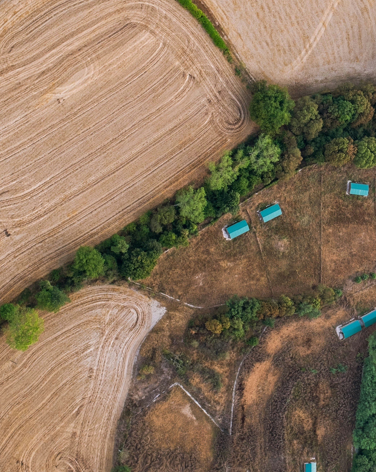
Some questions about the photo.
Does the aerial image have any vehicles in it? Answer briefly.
No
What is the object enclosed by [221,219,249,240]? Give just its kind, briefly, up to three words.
shed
